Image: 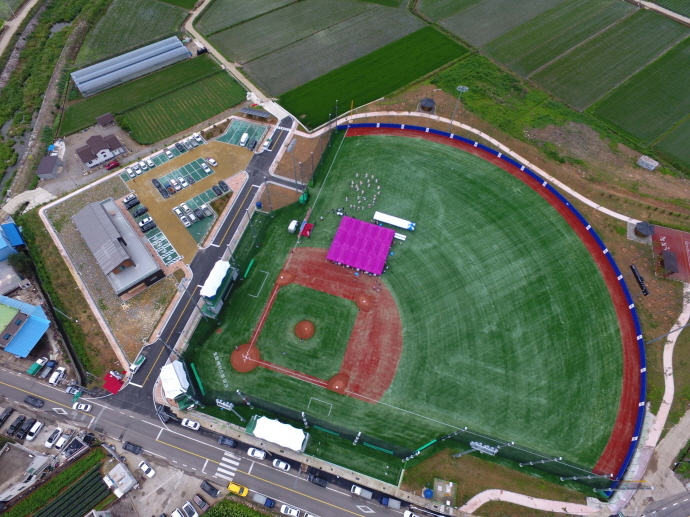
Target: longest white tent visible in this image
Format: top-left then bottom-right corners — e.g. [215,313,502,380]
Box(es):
[373,212,416,235]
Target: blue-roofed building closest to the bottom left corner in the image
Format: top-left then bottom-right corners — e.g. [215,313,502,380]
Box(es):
[0,295,59,357]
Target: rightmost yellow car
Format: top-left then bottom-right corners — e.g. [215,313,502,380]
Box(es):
[228,483,248,496]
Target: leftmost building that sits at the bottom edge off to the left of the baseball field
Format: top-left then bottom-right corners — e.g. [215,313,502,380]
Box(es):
[0,443,53,501]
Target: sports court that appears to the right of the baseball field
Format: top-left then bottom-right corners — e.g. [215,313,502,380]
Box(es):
[653,225,690,283]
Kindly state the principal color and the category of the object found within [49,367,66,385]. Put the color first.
white car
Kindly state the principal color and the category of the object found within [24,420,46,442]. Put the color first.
white vehicle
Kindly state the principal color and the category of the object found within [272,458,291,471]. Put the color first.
white vehicle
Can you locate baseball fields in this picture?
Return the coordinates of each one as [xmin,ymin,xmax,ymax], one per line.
[180,127,639,498]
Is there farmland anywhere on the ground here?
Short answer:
Yes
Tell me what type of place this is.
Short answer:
sports ground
